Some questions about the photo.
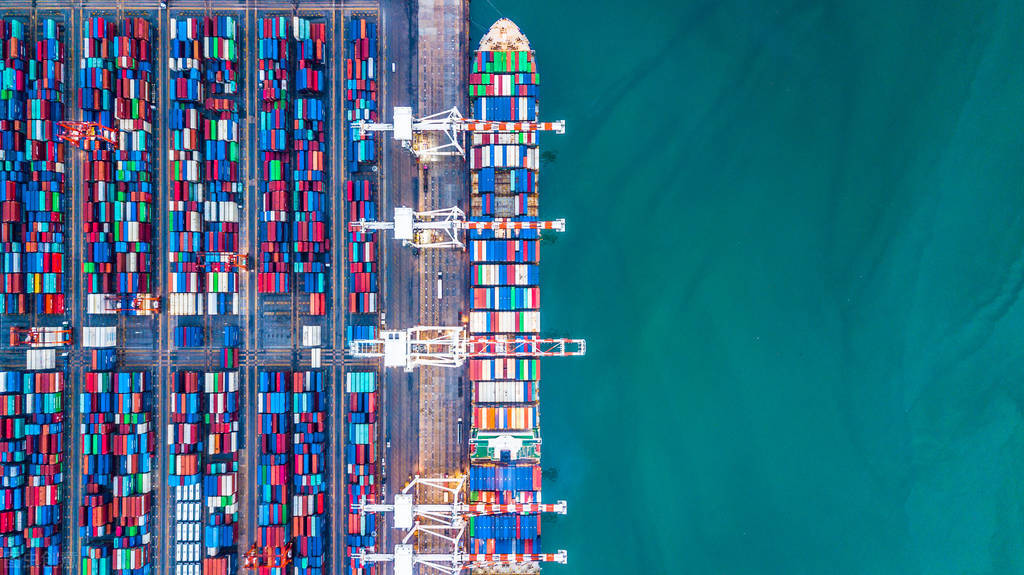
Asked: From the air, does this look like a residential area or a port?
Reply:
port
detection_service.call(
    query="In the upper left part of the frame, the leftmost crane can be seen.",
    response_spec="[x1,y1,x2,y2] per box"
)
[57,122,118,148]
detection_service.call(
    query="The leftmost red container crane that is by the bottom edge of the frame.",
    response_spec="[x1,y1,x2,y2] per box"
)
[241,542,293,574]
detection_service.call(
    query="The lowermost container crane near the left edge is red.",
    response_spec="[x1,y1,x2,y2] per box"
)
[10,326,73,345]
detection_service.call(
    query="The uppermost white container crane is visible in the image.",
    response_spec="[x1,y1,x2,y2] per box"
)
[351,107,566,162]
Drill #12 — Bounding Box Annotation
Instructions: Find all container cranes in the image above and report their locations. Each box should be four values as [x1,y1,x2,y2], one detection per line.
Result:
[241,542,293,574]
[351,319,585,371]
[351,107,566,162]
[101,295,160,313]
[351,204,566,253]
[351,469,566,529]
[351,515,566,575]
[57,122,118,148]
[10,326,73,345]
[193,252,247,270]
